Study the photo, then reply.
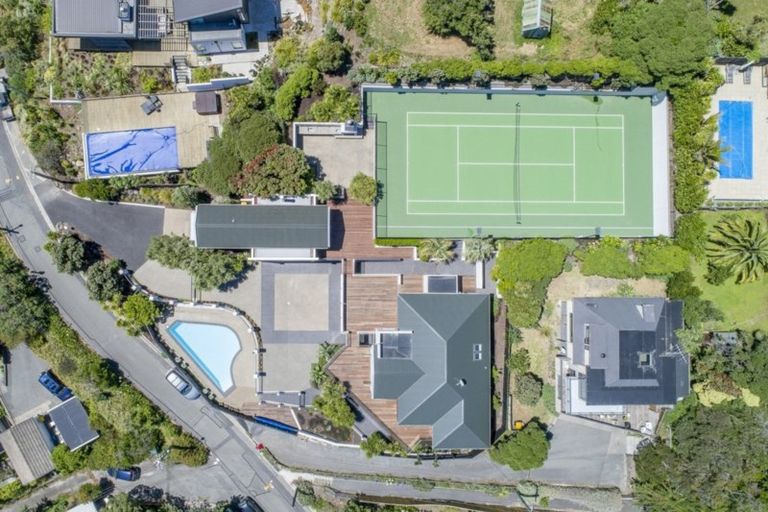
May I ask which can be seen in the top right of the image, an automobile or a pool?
pool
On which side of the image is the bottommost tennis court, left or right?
right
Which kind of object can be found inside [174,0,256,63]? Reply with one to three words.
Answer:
house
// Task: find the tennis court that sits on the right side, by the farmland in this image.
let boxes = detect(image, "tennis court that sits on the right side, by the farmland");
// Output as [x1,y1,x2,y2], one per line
[365,92,672,238]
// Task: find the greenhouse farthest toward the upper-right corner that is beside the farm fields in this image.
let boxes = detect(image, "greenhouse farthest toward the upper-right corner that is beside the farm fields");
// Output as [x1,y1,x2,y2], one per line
[518,0,551,38]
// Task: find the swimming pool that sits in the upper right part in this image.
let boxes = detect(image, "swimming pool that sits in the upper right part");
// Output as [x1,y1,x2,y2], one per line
[718,100,752,179]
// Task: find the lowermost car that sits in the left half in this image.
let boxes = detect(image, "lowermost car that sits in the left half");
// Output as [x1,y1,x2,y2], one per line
[231,487,268,512]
